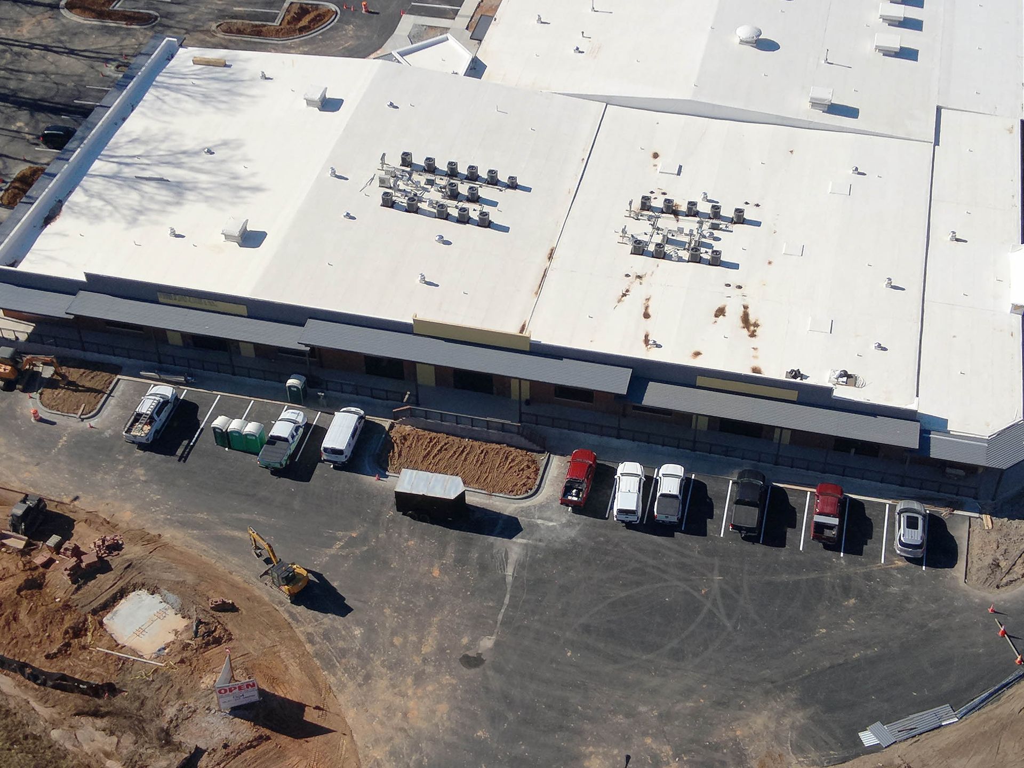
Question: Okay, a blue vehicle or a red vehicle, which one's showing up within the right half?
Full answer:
You can see a red vehicle within the right half.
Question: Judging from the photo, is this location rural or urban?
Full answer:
The area is urban.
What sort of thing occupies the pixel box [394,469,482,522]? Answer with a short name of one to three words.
trailer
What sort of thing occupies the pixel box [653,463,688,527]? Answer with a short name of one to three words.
truck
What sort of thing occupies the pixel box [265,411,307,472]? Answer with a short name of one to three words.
truck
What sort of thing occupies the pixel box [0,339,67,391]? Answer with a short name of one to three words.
work vehicle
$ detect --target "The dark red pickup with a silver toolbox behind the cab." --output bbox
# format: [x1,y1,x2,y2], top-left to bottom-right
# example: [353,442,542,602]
[811,482,848,548]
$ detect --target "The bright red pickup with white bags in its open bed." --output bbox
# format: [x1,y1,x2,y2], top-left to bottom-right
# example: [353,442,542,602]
[560,449,599,508]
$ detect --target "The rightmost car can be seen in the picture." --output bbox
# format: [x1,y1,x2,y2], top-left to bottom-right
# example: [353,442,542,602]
[892,500,933,560]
